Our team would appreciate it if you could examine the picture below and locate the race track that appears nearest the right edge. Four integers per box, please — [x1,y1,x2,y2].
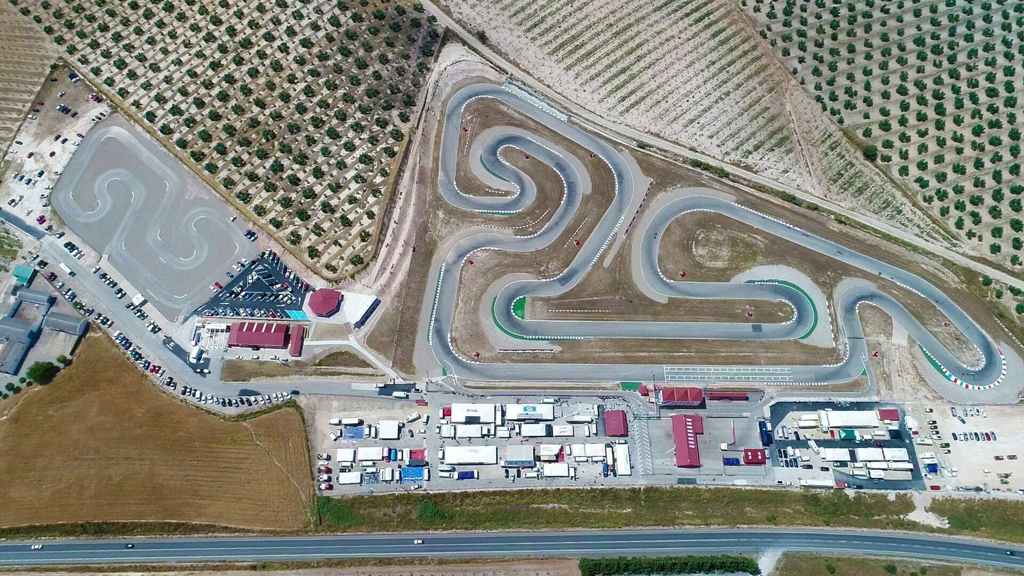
[431,84,1000,386]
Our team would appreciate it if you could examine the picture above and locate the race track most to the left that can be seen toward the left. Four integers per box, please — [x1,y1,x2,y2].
[55,122,255,308]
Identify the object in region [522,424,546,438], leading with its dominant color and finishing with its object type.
white tent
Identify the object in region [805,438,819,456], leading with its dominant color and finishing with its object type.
white camper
